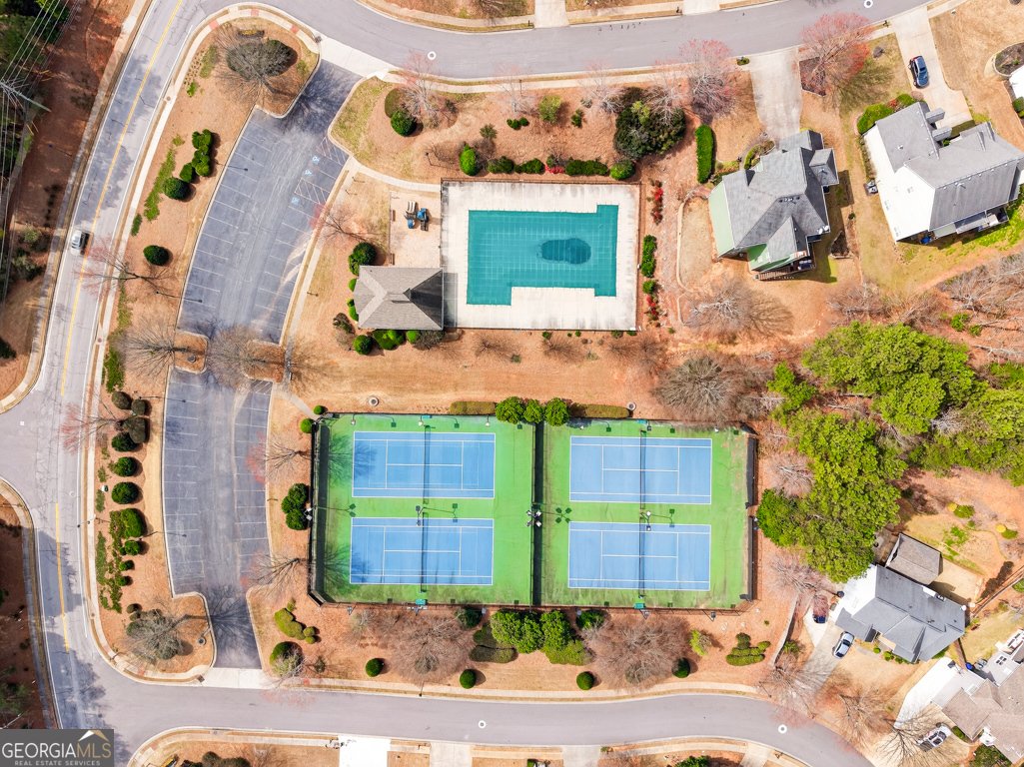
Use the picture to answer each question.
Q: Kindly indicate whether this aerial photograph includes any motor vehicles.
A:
Yes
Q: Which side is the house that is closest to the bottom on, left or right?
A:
right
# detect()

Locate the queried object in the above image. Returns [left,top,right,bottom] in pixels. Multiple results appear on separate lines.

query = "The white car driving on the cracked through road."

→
[67,226,85,255]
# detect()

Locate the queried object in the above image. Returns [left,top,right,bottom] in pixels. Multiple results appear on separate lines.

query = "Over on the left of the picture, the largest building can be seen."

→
[354,265,443,330]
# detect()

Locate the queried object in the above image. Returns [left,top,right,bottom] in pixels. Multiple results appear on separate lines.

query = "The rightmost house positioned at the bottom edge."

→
[933,628,1024,766]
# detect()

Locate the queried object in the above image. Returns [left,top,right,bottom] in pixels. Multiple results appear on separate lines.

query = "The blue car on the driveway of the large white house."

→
[911,54,930,85]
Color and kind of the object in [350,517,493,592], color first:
blue tennis court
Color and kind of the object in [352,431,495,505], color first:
blue tennis court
